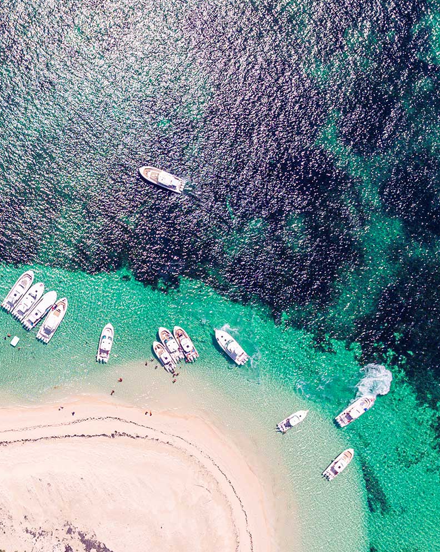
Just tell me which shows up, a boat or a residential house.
boat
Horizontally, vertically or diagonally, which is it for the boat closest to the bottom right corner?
diagonally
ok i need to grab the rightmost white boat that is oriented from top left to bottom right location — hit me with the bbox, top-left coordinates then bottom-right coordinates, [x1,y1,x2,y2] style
[214,328,249,367]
